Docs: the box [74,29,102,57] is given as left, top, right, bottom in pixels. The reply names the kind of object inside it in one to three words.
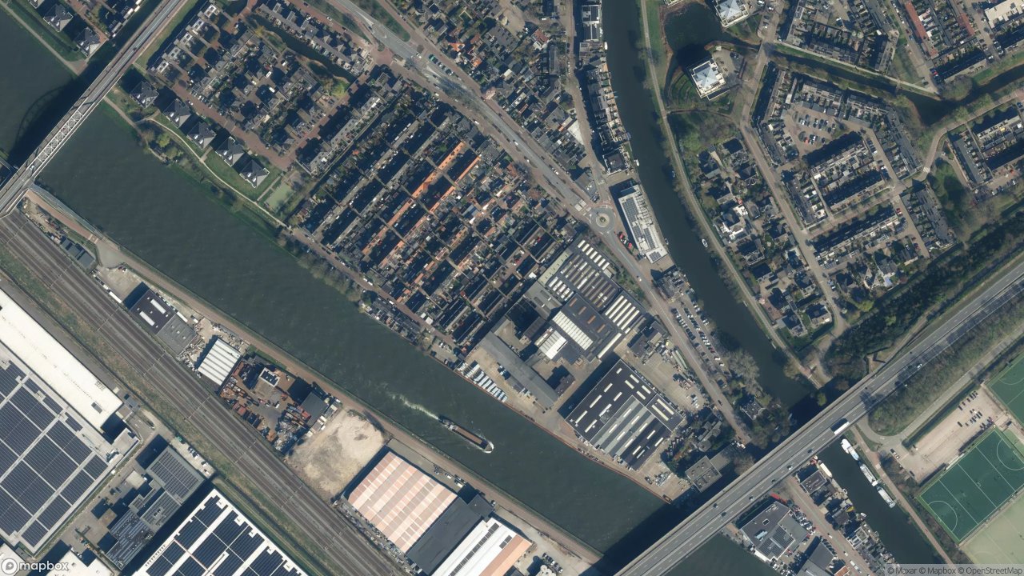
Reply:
house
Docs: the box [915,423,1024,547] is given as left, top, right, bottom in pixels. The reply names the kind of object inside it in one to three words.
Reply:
sports field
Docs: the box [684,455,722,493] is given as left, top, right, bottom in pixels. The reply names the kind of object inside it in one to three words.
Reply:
building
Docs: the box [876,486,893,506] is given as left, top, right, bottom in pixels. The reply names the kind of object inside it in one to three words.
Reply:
boat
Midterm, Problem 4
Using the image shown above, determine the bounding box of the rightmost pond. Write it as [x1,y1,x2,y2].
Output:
[664,4,758,100]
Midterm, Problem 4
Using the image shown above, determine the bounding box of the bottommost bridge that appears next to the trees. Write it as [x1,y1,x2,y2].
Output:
[612,250,1024,576]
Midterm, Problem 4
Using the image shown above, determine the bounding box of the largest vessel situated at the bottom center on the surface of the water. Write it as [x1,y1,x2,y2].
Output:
[437,415,492,452]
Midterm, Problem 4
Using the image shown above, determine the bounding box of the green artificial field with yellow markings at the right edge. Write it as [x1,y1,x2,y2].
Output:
[984,352,1024,423]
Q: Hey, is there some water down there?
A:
Yes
